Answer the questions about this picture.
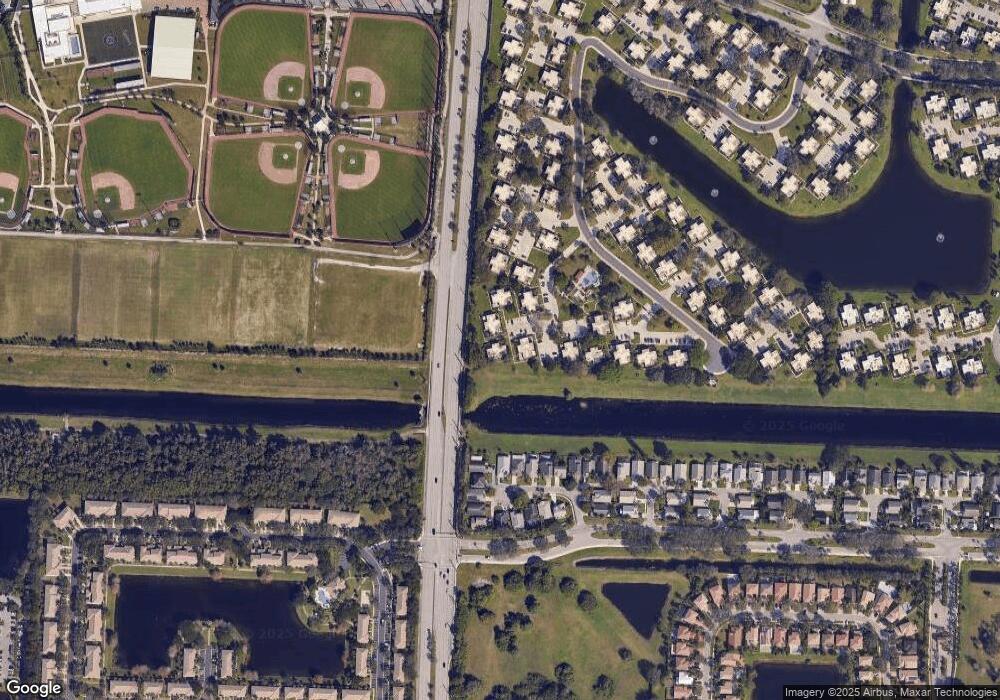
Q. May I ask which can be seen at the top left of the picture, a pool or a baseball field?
baseball field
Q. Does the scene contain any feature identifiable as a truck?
No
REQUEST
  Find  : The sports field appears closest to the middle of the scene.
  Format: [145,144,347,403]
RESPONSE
[314,263,421,353]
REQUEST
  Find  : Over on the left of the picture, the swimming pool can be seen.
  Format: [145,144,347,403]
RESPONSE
[314,587,331,608]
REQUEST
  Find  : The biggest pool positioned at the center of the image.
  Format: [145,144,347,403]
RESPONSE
[579,266,600,288]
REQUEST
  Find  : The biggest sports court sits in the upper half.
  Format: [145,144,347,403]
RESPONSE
[82,16,139,63]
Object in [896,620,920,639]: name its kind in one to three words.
house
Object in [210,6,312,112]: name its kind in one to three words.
baseball field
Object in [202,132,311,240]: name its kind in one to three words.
baseball field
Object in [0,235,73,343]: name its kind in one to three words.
sports field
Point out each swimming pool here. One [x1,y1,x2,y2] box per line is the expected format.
[314,587,331,608]
[579,266,600,288]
